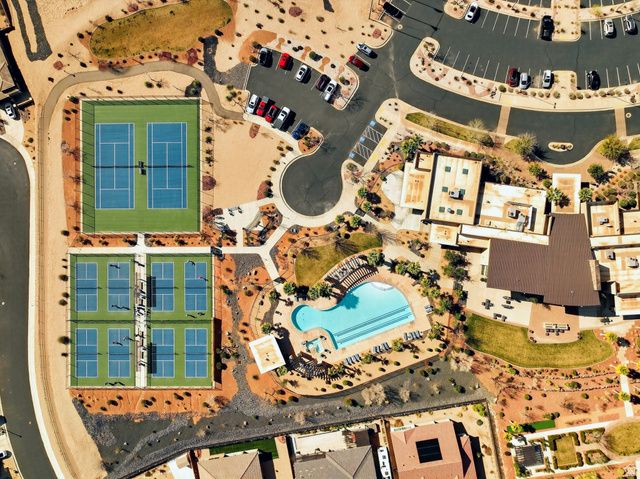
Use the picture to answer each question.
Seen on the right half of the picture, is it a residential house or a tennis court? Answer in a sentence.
What appears on the right half of the picture is a residential house.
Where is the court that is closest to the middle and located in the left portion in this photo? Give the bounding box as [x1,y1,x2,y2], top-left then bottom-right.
[182,263,208,311]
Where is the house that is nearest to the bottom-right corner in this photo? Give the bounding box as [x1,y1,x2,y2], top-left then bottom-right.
[390,418,476,479]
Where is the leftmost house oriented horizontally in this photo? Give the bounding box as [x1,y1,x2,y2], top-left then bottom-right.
[198,450,265,479]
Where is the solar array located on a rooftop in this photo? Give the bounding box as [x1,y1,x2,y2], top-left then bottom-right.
[416,438,442,463]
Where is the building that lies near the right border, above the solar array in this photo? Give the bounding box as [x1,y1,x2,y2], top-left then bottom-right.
[397,151,640,316]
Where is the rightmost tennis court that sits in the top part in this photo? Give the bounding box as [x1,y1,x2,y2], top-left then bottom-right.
[144,123,190,209]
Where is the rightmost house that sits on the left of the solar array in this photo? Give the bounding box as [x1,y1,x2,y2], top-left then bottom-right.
[294,443,377,479]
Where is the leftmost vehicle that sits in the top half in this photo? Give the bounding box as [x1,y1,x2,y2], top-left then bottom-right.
[4,102,19,120]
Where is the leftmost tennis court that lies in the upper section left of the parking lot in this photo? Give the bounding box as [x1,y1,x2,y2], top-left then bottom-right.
[90,123,137,209]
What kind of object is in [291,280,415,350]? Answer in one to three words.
swimming pool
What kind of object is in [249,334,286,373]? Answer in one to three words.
building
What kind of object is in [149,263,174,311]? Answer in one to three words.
sports court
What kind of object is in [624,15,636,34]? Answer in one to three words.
vehicle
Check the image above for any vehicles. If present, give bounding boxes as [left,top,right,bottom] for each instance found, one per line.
[4,102,19,120]
[349,56,367,70]
[256,95,268,116]
[382,2,404,19]
[274,106,289,128]
[316,73,328,92]
[266,104,278,123]
[258,48,269,66]
[292,120,307,140]
[0,450,10,460]
[325,79,338,100]
[296,64,307,82]
[279,52,290,70]
[542,16,552,39]
[466,2,478,21]
[508,68,518,86]
[624,15,636,34]
[248,94,258,113]
[589,71,599,89]
[603,18,614,36]
[358,43,376,57]
[542,69,552,88]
